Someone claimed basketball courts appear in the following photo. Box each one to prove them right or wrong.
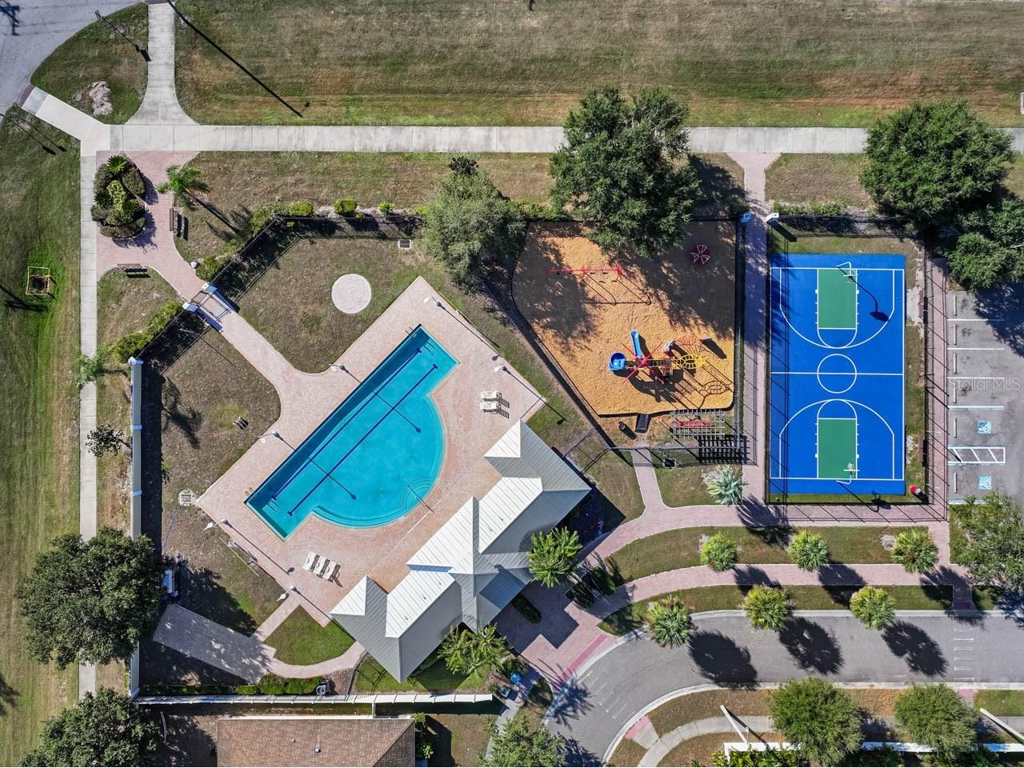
[769,254,905,494]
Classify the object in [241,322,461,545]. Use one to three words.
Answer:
swimming pool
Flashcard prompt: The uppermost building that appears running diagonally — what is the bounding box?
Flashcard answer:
[330,419,592,682]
